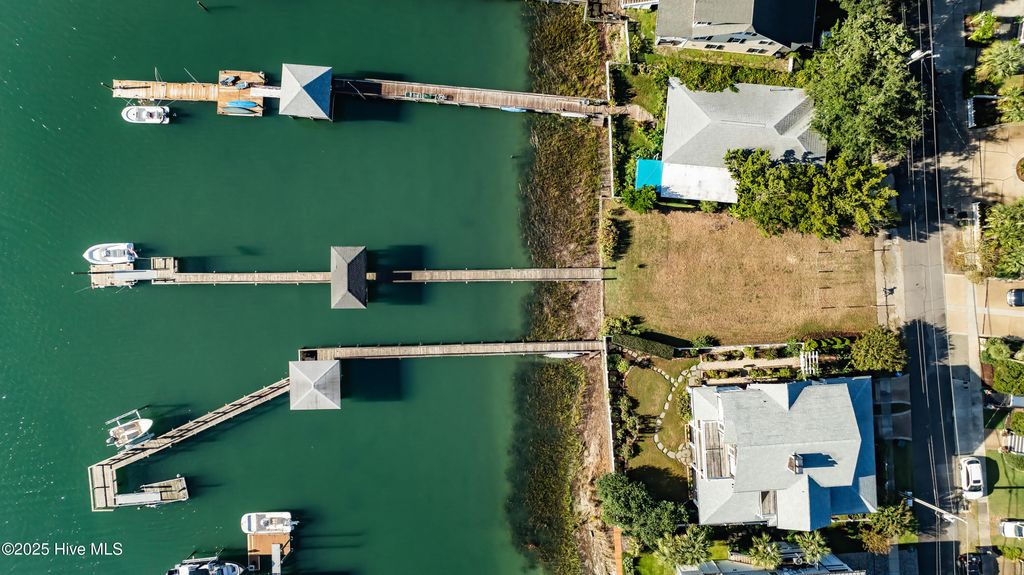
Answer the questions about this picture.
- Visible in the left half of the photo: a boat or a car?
boat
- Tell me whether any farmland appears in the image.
No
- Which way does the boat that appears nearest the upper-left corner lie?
from left to right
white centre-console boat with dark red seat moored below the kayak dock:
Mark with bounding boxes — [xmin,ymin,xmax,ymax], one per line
[121,105,182,126]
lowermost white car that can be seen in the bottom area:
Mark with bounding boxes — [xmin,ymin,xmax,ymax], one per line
[998,520,1024,541]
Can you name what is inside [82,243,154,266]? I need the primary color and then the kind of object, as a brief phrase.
white boat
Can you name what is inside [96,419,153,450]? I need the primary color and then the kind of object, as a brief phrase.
white boat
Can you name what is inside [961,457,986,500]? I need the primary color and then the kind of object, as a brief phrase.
white car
